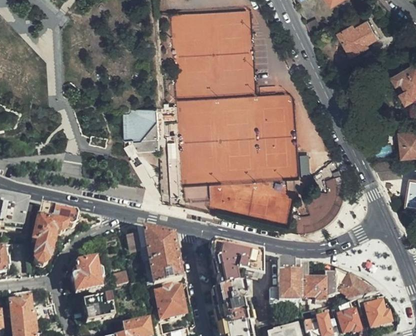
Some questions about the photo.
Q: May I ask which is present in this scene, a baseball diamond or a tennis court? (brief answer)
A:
tennis court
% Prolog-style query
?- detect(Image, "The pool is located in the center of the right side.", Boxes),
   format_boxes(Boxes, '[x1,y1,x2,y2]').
[376,144,394,159]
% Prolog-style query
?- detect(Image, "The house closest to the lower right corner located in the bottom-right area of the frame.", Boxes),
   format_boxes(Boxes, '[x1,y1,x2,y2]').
[364,298,396,332]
